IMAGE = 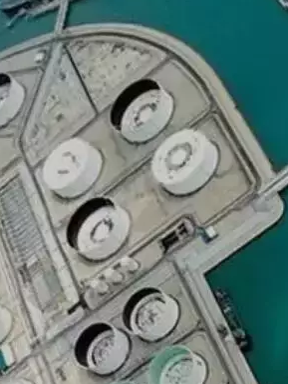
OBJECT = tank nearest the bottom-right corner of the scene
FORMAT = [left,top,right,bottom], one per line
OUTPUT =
[149,343,210,384]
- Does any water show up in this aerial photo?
Yes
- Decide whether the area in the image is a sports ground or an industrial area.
industrial area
